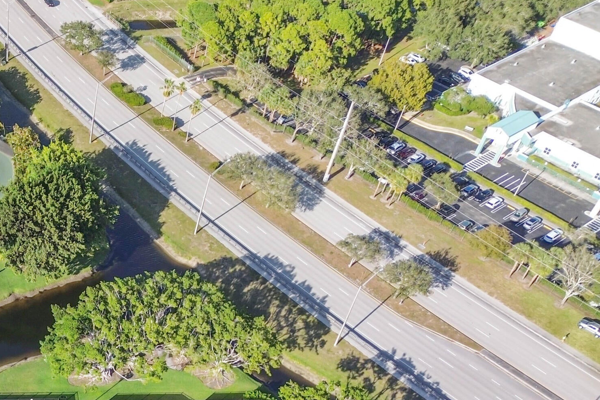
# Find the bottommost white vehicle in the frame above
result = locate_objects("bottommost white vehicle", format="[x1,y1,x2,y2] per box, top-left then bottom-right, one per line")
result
[575,317,600,337]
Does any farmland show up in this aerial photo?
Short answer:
No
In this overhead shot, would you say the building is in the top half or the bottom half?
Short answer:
top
